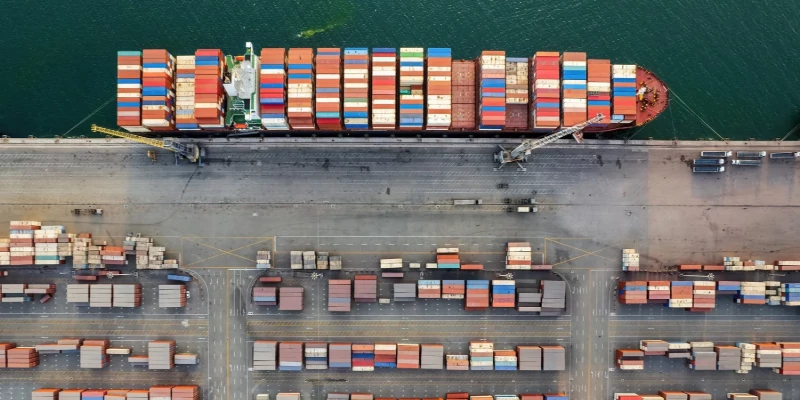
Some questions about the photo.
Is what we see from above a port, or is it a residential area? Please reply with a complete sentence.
It's a port.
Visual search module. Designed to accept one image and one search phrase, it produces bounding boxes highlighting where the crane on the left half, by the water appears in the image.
[91,121,208,168]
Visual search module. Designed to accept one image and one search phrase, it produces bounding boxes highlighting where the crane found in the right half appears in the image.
[494,112,605,170]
